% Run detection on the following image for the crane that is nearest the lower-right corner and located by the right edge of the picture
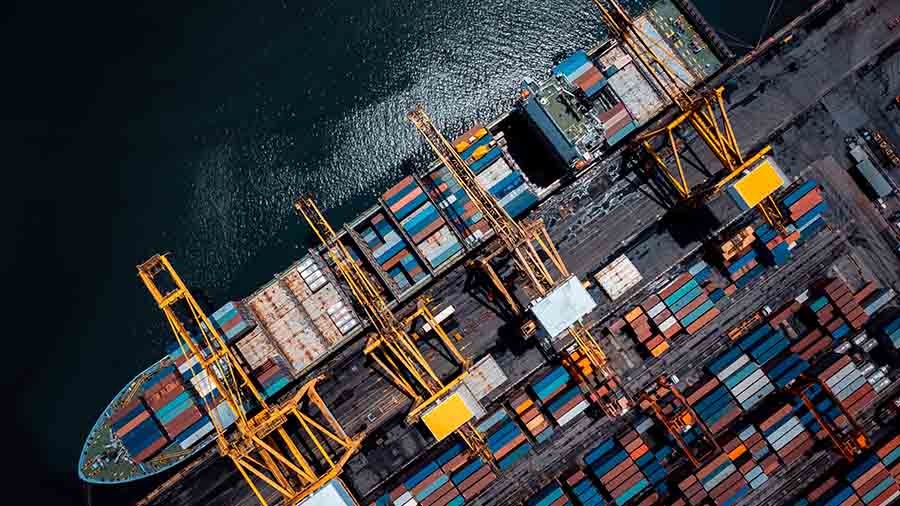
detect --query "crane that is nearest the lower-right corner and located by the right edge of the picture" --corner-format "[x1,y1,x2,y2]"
[785,372,875,461]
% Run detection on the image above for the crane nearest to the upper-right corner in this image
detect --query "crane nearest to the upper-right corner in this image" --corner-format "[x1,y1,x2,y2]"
[593,0,788,239]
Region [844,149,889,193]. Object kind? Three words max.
truck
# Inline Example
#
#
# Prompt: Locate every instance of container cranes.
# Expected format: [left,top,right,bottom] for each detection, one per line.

[633,374,725,471]
[136,247,376,506]
[785,372,875,461]
[555,337,634,421]
[407,99,615,377]
[295,194,498,473]
[593,0,788,239]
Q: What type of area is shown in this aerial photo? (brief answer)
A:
port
